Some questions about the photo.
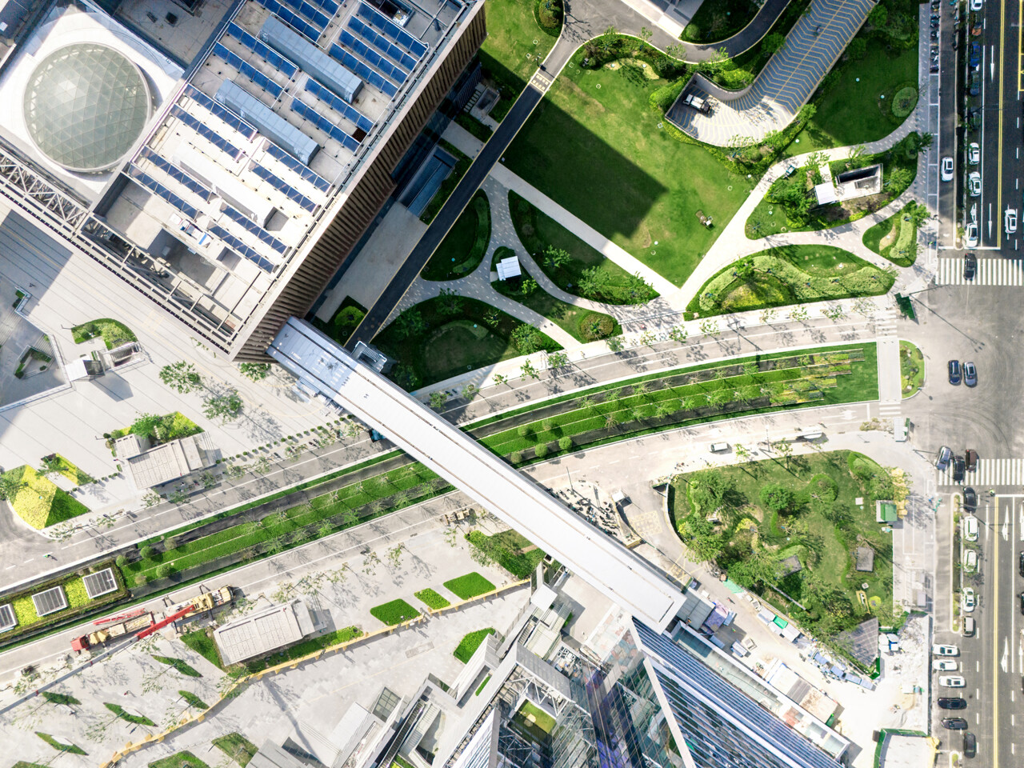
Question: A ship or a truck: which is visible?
truck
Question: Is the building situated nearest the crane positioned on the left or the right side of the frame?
left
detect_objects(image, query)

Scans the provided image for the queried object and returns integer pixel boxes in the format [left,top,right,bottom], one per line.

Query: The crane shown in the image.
[0,576,234,717]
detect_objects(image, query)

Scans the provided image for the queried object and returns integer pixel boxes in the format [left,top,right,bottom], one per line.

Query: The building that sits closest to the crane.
[213,599,326,666]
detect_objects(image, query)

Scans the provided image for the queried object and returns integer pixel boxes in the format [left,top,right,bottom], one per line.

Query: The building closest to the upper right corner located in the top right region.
[811,162,882,208]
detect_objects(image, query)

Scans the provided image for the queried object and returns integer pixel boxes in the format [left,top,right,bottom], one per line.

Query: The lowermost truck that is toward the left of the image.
[56,611,147,654]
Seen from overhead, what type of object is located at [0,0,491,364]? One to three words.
building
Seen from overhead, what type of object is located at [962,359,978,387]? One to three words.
car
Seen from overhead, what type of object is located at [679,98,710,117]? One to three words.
vehicle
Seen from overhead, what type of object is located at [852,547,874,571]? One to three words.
shed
